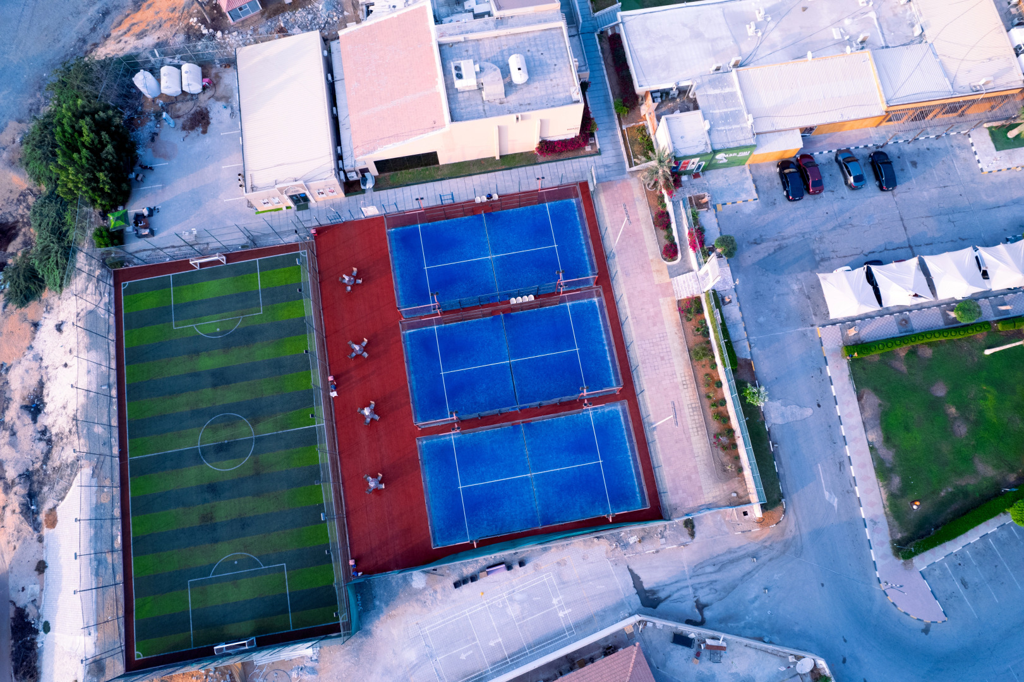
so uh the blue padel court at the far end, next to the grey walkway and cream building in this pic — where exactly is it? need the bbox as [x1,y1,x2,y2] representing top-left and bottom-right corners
[384,177,600,318]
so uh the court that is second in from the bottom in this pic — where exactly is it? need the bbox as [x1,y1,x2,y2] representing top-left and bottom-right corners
[414,397,654,552]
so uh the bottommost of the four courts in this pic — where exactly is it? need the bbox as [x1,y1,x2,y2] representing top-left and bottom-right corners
[417,556,598,682]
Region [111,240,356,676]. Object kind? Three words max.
soccer field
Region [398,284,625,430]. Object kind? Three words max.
sports court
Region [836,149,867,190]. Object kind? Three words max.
car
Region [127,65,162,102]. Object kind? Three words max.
water tank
